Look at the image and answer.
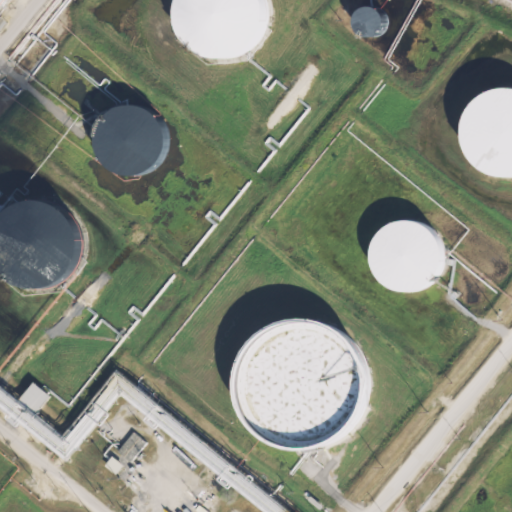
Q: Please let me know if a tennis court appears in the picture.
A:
No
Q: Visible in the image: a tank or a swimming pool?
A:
tank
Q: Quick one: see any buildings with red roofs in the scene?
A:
No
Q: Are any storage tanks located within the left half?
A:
Yes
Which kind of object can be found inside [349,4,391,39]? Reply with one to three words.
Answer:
storage tank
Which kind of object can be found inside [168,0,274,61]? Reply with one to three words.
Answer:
storage tank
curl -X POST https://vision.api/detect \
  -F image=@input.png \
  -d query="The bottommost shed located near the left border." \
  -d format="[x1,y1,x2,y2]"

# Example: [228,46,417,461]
[20,382,53,412]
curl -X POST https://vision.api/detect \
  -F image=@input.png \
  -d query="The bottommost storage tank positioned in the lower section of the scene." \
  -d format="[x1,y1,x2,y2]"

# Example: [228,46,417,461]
[228,317,374,454]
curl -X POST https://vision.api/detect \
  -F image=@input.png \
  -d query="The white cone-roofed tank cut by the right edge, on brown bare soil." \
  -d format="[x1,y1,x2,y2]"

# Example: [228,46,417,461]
[458,85,512,180]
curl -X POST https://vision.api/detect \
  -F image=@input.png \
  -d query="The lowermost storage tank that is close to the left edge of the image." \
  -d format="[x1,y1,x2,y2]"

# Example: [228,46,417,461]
[0,199,84,290]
